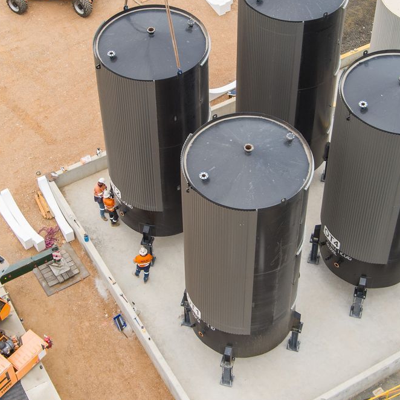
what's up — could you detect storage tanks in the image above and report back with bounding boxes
[367,0,400,51]
[92,2,213,247]
[305,46,400,299]
[171,108,316,371]
[232,0,348,171]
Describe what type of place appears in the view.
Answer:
industrial area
